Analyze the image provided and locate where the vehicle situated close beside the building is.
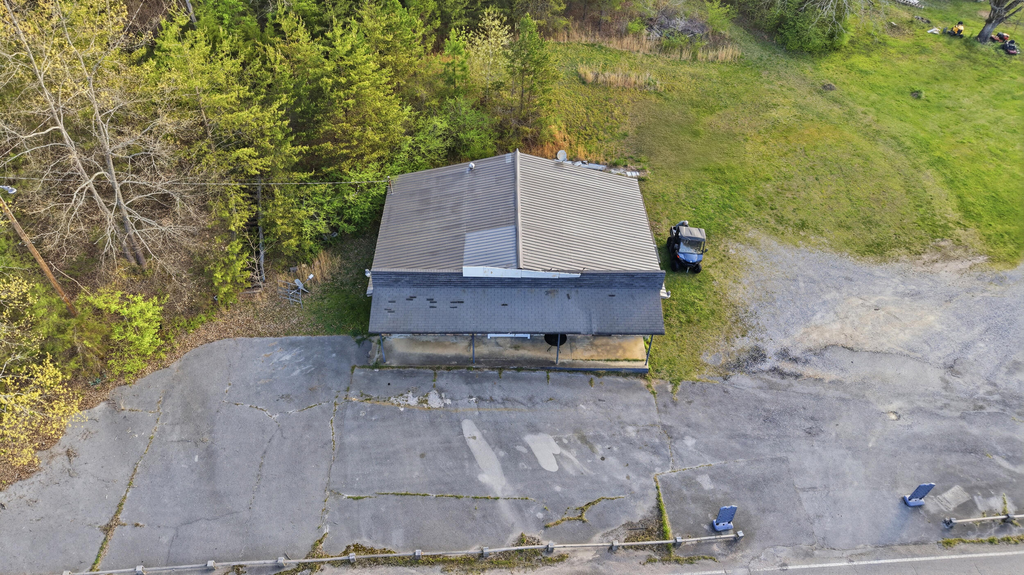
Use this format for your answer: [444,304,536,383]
[670,222,712,277]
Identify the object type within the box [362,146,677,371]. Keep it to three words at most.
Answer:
building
